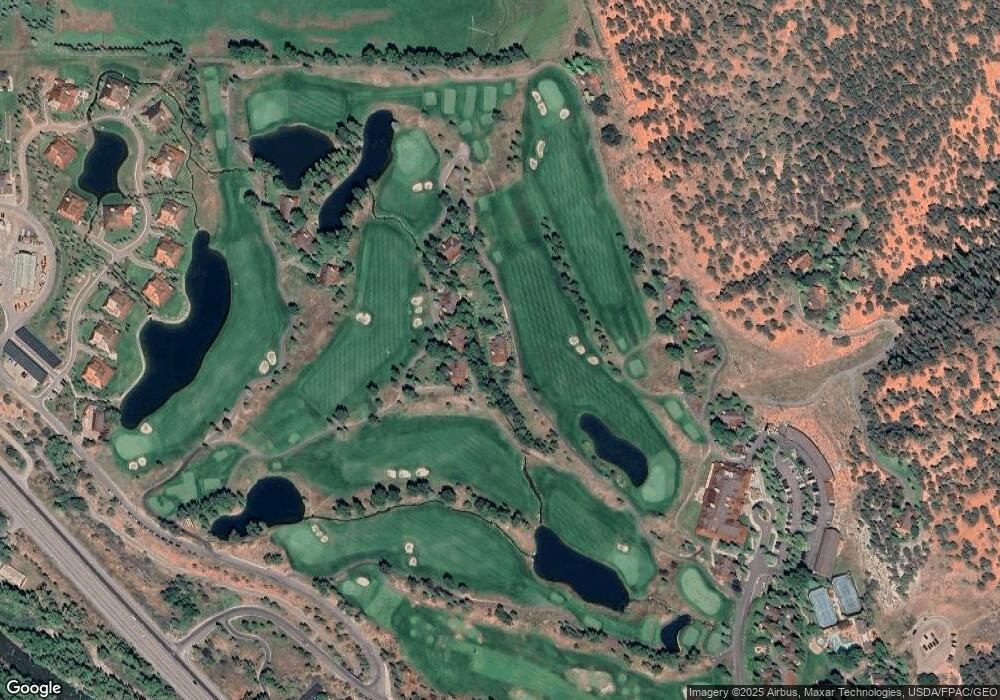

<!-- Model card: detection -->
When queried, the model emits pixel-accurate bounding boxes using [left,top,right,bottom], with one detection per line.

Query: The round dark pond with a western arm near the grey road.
[210,474,306,540]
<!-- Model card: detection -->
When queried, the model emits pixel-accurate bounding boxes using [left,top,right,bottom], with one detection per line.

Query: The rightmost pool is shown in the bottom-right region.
[809,620,863,655]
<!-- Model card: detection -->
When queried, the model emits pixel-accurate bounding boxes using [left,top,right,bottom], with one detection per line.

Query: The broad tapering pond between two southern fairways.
[533,526,629,611]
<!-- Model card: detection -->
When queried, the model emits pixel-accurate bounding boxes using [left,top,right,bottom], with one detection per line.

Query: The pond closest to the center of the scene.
[580,413,648,487]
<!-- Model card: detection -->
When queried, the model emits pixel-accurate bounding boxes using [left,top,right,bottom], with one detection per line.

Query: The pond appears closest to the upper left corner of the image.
[79,128,128,194]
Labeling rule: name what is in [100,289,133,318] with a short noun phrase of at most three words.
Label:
house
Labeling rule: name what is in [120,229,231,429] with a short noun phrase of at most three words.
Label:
pond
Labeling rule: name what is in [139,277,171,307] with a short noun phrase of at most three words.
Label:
house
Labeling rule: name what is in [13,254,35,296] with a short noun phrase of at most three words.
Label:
building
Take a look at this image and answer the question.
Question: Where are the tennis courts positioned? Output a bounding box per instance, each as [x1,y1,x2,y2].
[832,574,862,616]
[810,587,839,629]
